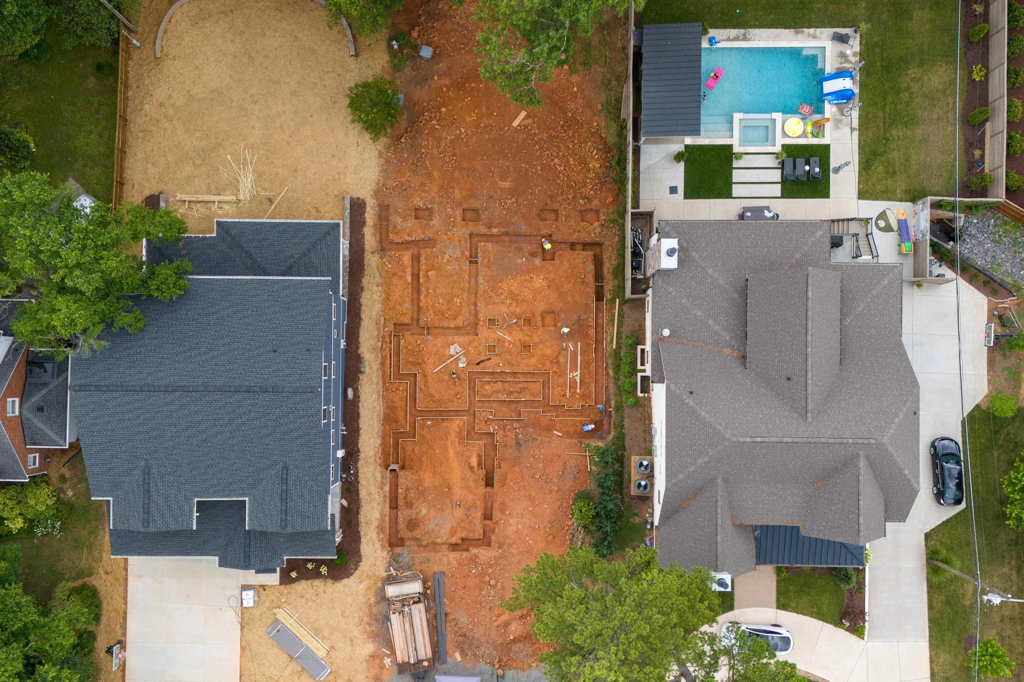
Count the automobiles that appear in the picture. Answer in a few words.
2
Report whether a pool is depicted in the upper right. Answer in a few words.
Yes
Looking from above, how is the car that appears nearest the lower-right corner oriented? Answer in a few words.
up and down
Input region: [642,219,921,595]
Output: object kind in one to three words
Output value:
house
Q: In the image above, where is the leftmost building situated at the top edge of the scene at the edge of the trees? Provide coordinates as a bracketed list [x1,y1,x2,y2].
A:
[635,17,702,147]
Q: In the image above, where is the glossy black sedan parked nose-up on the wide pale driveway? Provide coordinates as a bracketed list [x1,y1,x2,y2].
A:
[930,437,966,508]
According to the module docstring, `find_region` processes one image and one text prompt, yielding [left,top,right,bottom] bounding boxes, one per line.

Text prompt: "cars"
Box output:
[722,623,795,659]
[930,437,966,508]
